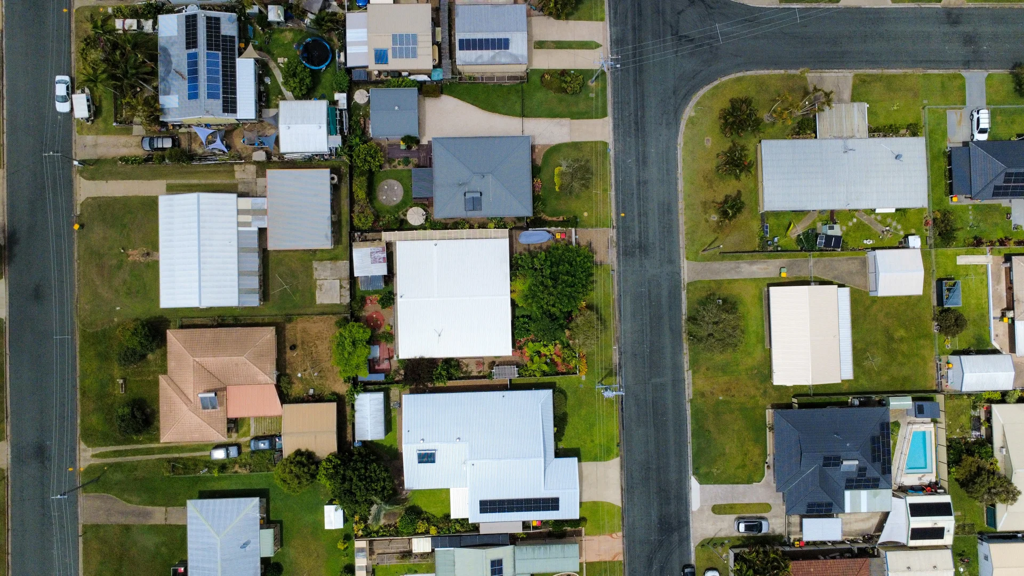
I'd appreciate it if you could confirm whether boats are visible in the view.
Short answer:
Yes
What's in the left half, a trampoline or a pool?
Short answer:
trampoline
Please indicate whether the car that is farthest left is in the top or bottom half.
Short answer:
top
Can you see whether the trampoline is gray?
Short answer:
No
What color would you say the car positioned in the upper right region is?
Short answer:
white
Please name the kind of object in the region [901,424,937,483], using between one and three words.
swimming pool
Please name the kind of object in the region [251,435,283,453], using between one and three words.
car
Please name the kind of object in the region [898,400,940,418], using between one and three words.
shed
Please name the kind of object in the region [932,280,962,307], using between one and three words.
building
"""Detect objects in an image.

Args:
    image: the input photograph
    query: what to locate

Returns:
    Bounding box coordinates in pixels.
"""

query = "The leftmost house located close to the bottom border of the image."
[186,495,279,576]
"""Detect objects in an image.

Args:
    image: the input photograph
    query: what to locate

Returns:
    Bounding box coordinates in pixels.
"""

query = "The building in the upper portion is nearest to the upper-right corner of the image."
[941,140,1024,200]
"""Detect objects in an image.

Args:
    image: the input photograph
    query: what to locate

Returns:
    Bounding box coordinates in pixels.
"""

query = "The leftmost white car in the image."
[54,76,74,114]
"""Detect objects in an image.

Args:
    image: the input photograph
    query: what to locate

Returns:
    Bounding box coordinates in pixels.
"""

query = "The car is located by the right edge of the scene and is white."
[968,108,990,141]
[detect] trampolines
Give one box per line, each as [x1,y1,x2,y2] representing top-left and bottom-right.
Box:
[296,34,334,70]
